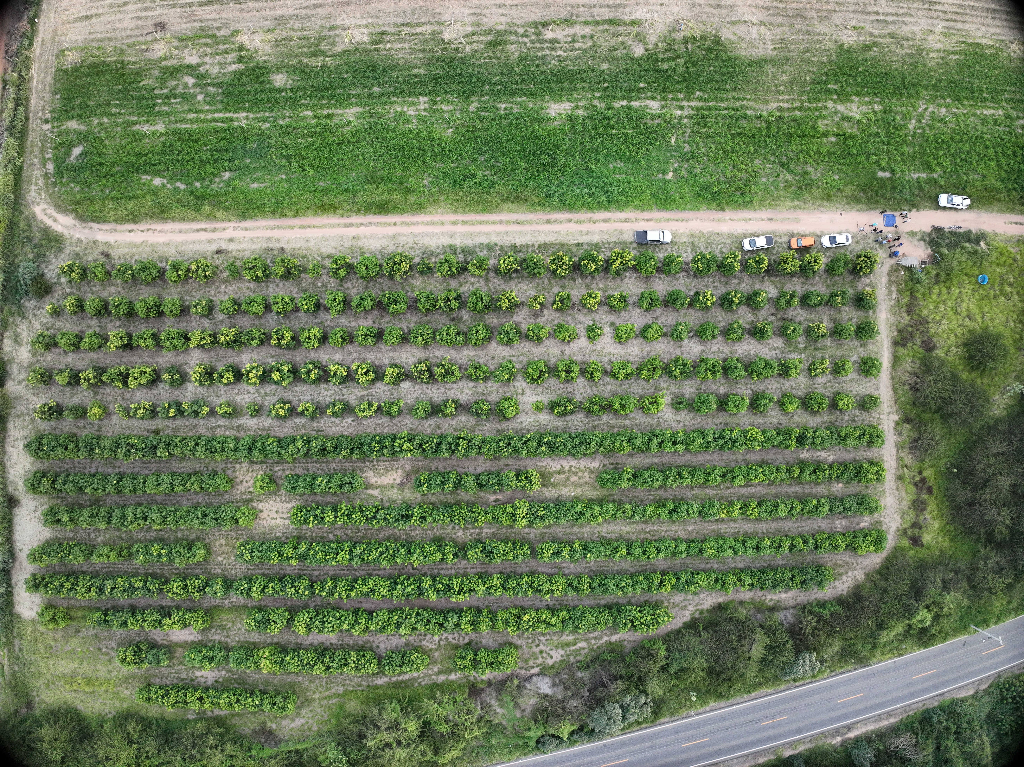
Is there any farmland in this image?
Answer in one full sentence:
Yes, farmland shows up in the scene.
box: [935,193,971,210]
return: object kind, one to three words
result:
vehicle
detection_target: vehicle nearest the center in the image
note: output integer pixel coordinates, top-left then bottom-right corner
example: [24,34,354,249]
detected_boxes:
[634,229,671,245]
